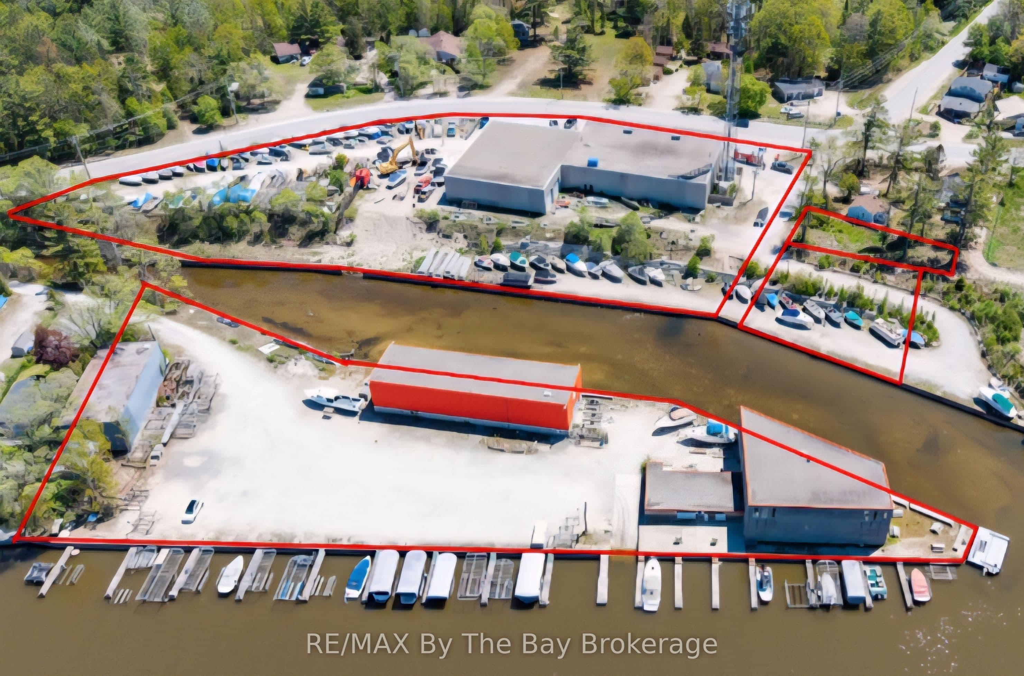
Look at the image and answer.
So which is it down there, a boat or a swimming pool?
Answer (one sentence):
The image shows a boat.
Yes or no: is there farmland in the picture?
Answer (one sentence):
No, the picture contains no farmland.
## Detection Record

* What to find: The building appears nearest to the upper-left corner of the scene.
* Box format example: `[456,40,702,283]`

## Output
[274,38,300,64]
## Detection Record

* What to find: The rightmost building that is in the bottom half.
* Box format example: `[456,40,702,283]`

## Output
[739,405,893,550]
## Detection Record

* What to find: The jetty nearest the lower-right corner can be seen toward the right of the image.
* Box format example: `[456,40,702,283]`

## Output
[897,566,915,609]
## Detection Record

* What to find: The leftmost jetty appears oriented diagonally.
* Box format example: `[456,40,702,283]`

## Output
[38,548,74,596]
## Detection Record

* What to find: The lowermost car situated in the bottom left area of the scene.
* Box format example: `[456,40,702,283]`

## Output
[181,498,203,524]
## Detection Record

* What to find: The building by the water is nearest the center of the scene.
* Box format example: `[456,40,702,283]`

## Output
[366,341,587,436]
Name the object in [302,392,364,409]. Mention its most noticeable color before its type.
white boat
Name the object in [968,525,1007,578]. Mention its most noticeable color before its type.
white boat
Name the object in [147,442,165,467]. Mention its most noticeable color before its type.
white vehicle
